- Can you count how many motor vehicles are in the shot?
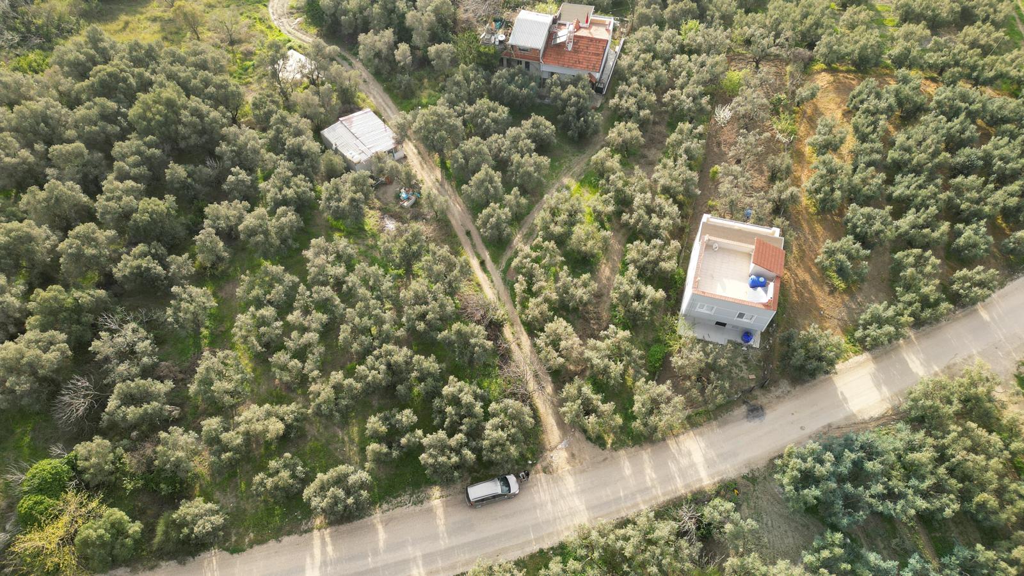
1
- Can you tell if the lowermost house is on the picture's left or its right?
right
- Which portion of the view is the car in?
bottom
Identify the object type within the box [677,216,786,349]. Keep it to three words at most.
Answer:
house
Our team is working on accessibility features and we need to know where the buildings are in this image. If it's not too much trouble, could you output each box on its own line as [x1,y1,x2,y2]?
[500,2,616,97]
[324,105,402,177]
[677,216,786,349]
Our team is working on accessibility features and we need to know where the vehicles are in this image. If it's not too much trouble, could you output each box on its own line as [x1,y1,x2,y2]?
[464,471,520,502]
